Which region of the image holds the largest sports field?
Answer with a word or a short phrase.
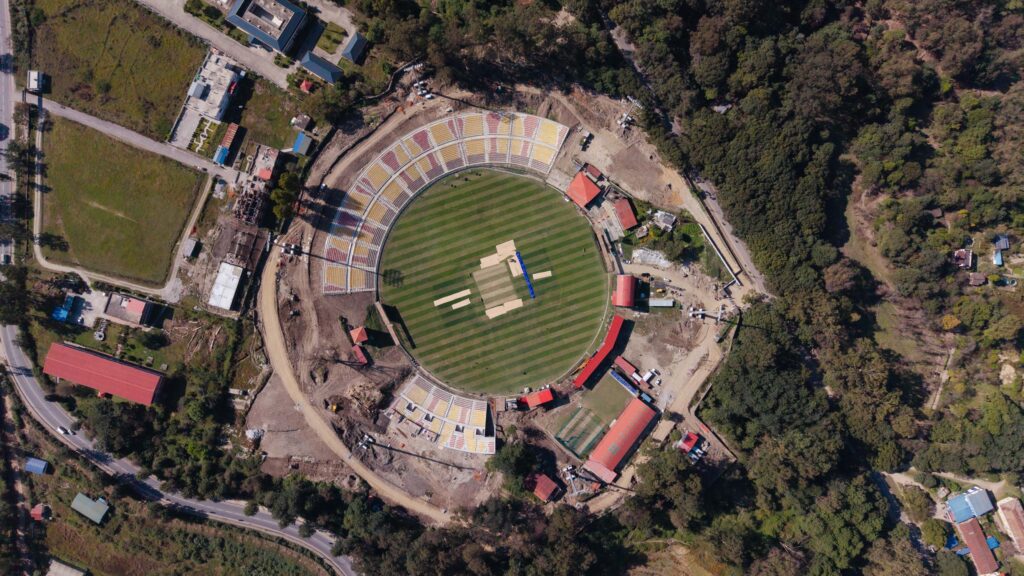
center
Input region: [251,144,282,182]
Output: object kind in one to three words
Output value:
house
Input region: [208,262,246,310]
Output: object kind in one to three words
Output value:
building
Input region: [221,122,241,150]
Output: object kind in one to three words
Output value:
shed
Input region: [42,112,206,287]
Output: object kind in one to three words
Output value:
sports field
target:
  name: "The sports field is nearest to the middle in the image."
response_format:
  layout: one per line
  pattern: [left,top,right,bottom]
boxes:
[379,168,609,394]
